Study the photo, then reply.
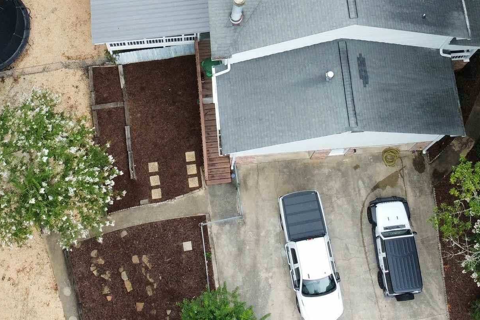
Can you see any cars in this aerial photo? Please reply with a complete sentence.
Yes, a car appears in the view.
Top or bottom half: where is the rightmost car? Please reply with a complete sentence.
The bottom half of the photo is where the rightmost car is.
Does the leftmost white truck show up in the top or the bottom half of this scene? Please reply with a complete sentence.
The leftmost white truck is in the bottom half of the image.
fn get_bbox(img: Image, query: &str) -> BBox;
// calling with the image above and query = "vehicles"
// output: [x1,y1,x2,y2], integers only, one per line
[368,195,422,296]
[274,189,346,320]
